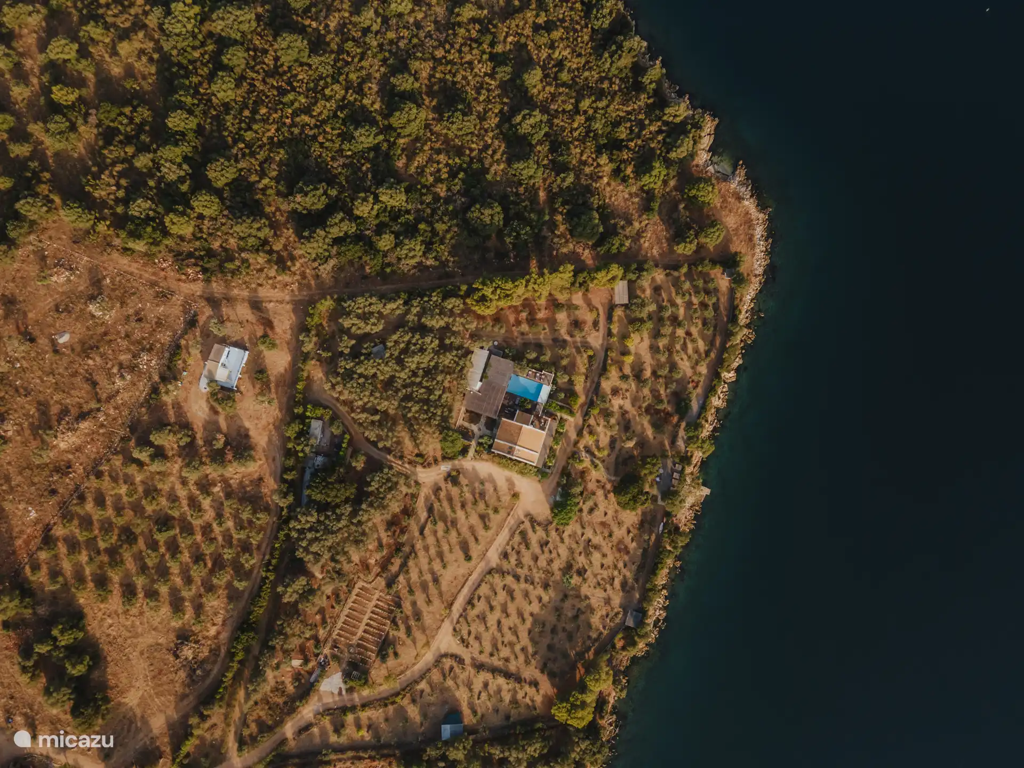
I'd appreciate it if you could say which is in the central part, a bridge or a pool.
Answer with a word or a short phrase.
pool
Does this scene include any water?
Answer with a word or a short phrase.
Yes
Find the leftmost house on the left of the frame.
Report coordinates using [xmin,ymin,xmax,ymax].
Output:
[200,344,252,392]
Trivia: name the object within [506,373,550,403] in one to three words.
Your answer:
swimming pool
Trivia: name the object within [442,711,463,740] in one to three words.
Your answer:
shed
